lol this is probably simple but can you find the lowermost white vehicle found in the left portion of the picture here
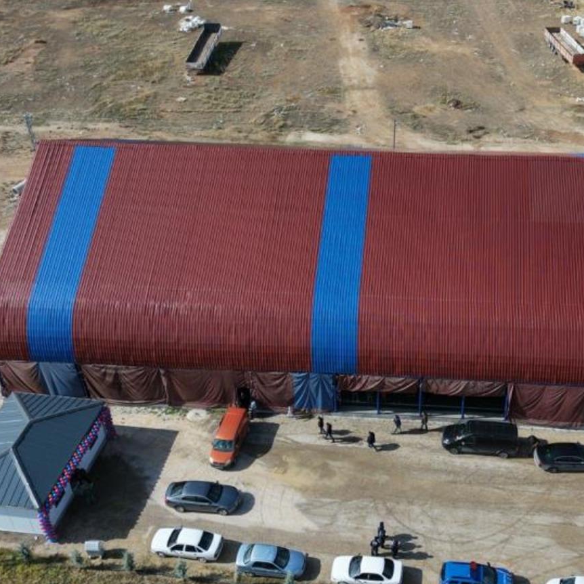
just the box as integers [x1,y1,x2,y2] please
[149,525,226,565]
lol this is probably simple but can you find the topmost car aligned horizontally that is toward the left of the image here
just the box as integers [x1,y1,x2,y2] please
[163,480,243,517]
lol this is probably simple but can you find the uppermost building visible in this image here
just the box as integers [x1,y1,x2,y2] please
[0,140,584,427]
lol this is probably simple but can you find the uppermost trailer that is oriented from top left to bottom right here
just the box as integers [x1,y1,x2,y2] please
[544,25,584,65]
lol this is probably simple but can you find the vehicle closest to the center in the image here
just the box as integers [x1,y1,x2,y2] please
[211,402,250,463]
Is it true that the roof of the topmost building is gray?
No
